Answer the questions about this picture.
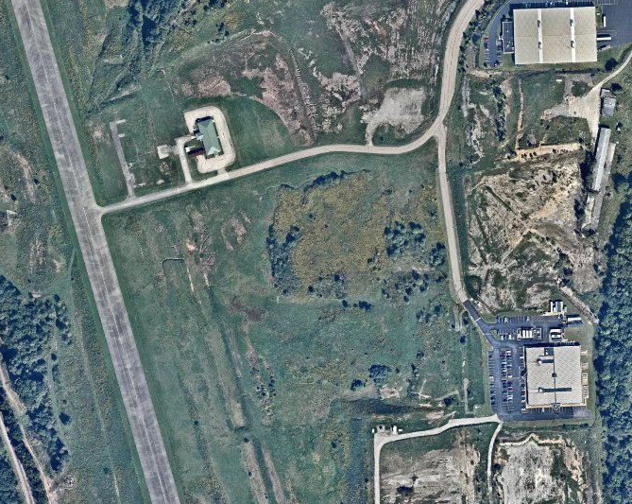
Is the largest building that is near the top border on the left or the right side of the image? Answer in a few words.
right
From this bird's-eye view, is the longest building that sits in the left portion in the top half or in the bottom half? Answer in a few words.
top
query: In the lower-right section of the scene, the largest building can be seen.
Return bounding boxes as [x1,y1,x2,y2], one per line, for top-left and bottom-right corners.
[522,346,584,410]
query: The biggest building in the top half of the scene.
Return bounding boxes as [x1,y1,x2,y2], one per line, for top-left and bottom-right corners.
[514,7,598,65]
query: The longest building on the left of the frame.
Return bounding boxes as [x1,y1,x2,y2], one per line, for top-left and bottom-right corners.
[198,120,221,155]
